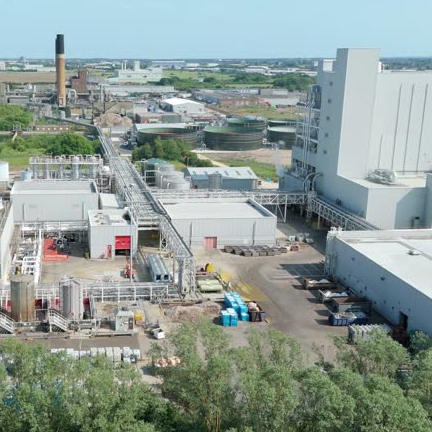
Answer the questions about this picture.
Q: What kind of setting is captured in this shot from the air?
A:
industrial area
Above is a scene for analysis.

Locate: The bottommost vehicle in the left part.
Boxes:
[149,321,175,340]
